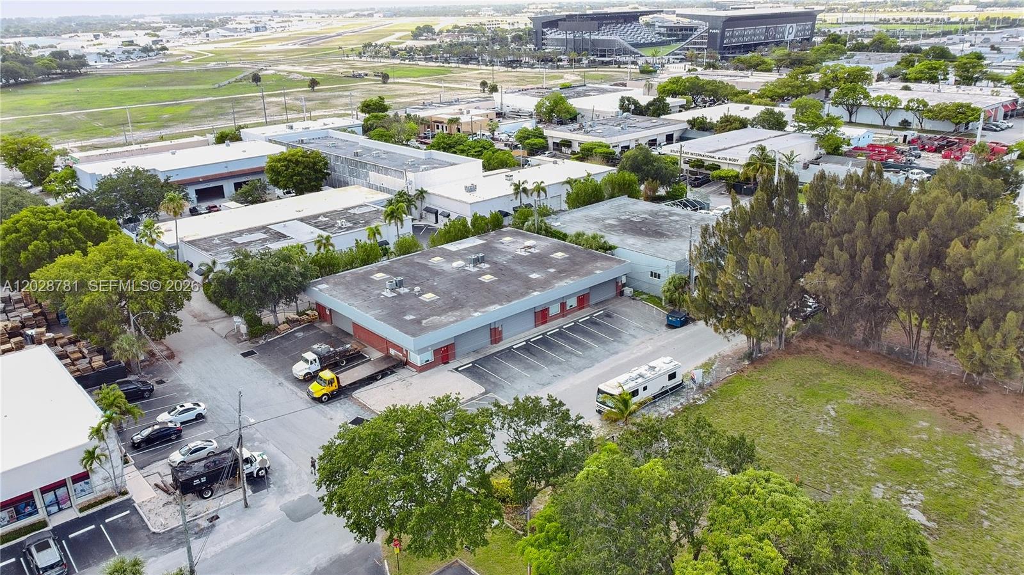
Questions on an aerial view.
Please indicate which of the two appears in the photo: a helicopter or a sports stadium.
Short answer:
sports stadium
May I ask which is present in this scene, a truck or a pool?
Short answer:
truck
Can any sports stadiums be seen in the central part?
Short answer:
No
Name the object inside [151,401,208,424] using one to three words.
car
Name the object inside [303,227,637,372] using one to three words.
building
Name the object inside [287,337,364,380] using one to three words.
truck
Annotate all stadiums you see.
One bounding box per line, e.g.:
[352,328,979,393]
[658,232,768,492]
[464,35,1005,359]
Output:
[515,9,829,62]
